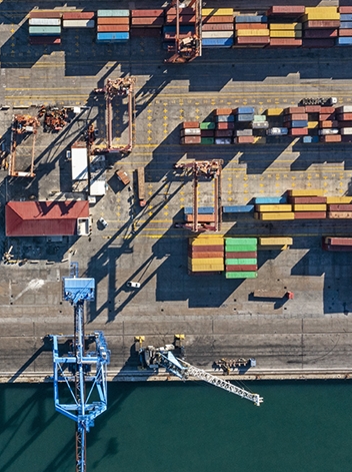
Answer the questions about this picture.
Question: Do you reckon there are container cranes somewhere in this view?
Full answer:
Yes, looking at the shot, I can spot a container crane.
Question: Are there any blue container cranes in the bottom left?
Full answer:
Yes, a blue container crane can be seen in the bottom left.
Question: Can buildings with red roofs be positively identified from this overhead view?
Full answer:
Yes, the frame does contain a building with a red roof.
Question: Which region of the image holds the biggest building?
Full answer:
The biggest building is in the left part of the image.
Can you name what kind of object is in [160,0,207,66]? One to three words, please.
container crane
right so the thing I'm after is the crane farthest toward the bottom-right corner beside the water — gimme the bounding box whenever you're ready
[136,335,263,405]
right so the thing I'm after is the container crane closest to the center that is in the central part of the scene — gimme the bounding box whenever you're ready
[171,157,221,229]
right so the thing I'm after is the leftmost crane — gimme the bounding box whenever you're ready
[1,113,40,181]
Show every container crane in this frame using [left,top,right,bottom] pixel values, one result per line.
[160,0,207,66]
[1,113,40,181]
[91,74,135,153]
[171,157,221,229]
[50,252,112,472]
